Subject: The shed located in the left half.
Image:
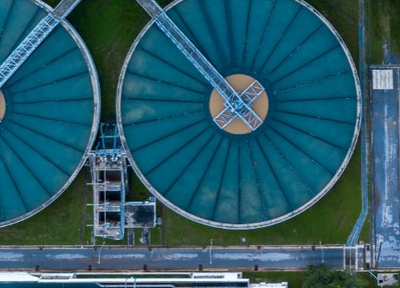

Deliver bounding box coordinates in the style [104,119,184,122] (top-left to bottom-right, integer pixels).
[125,193,162,228]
